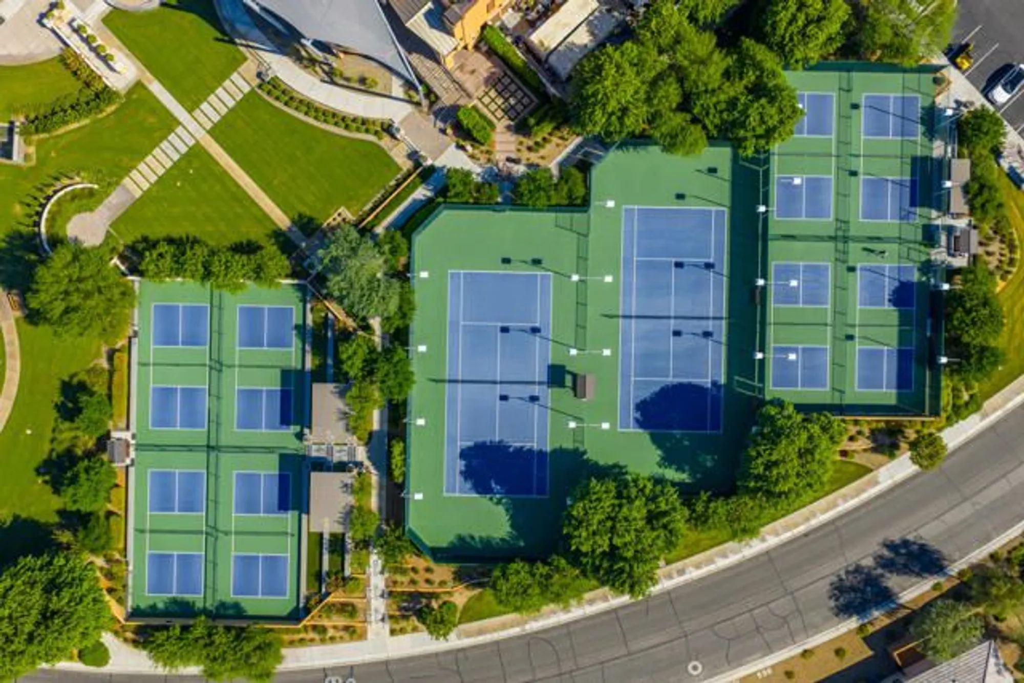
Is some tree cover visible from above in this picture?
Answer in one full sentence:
Yes, there's tree cover in this view.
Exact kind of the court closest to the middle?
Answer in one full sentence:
Specifically, the court closest to the middle is a tennis court.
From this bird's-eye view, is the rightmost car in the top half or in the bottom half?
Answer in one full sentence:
The rightmost car sits in the top half of the picture.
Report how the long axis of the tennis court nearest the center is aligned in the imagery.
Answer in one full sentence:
In this picture, the tennis court nearest the center is oriented from top to bottom.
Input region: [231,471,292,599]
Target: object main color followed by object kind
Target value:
blue sports court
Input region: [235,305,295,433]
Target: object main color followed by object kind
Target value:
blue sports court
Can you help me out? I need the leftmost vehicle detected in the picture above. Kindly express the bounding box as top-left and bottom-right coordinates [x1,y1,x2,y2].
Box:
[953,42,983,71]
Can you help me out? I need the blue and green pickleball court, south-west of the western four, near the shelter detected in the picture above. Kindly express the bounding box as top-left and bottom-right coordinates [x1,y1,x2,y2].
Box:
[146,470,207,598]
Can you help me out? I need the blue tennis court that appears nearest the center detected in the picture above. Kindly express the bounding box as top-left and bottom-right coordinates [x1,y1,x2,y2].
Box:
[444,271,553,497]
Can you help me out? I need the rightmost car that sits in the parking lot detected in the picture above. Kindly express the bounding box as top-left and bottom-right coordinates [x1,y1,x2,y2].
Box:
[994,65,1024,102]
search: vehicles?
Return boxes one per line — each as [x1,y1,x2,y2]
[994,65,1024,102]
[953,42,983,71]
